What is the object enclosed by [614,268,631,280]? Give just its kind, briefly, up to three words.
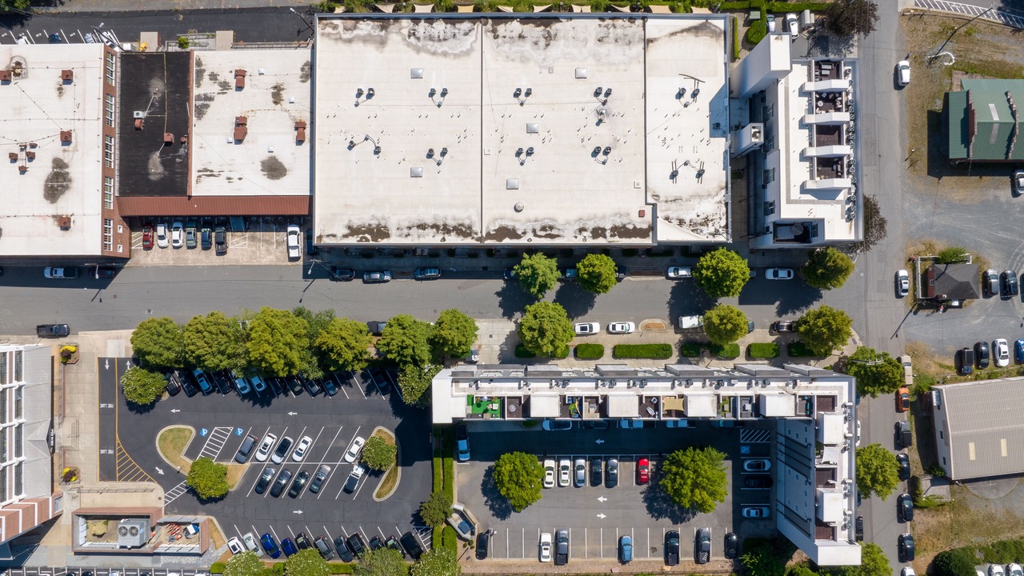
vehicle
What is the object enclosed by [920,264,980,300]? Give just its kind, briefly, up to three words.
house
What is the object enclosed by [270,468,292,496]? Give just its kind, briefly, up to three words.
car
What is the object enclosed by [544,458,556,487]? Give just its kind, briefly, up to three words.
vehicle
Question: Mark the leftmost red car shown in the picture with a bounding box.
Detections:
[140,222,156,250]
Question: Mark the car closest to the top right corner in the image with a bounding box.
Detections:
[896,60,912,88]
